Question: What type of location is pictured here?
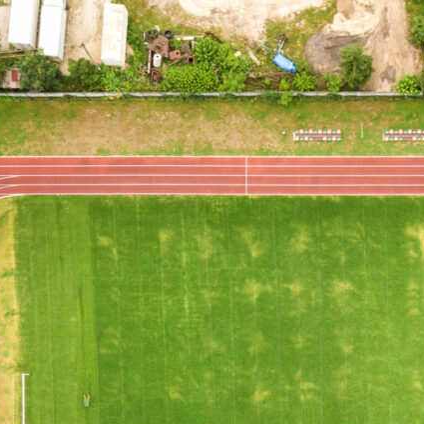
sports ground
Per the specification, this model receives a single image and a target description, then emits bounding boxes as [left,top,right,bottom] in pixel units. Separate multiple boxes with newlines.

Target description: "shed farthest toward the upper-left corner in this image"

[8,0,40,52]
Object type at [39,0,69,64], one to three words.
shed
